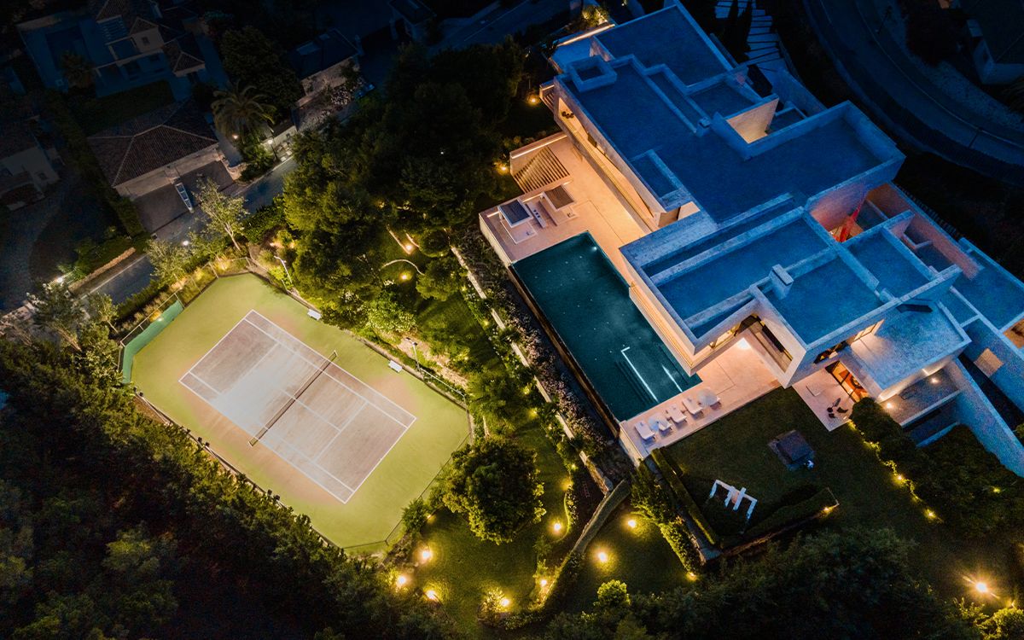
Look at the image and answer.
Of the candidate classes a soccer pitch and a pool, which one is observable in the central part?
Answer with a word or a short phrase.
pool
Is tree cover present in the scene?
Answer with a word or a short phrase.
Yes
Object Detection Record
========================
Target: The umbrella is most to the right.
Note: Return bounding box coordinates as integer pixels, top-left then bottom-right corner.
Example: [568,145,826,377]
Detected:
[693,380,714,404]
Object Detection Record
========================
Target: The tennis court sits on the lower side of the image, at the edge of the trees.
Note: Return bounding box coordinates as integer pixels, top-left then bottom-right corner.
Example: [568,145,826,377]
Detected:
[130,273,472,550]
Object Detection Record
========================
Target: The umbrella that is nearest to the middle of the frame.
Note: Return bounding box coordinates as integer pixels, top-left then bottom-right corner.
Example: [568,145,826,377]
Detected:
[645,406,666,430]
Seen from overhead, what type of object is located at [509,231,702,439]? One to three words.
swimming pool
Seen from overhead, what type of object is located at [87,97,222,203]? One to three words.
building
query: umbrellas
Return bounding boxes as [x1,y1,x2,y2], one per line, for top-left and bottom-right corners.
[693,380,714,404]
[645,406,666,430]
